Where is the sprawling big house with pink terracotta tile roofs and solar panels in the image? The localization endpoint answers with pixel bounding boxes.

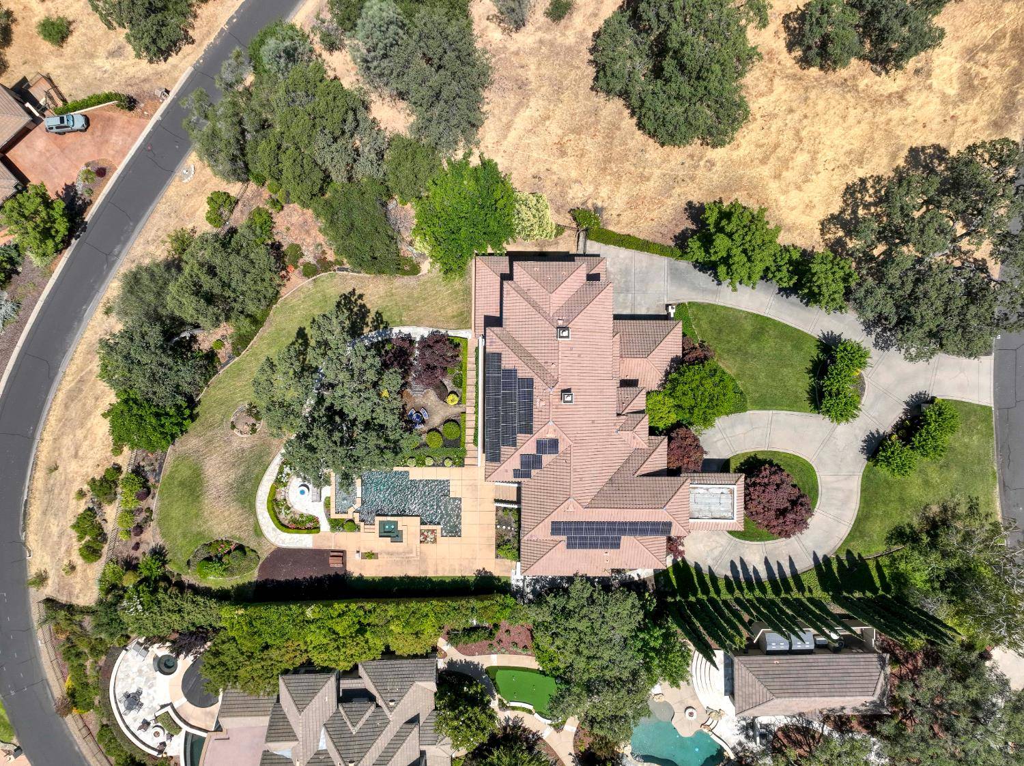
[471,255,746,591]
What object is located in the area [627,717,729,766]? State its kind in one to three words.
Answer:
swimming pool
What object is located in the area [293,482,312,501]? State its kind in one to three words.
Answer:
fountain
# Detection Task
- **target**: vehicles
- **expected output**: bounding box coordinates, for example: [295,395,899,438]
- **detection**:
[39,111,85,132]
